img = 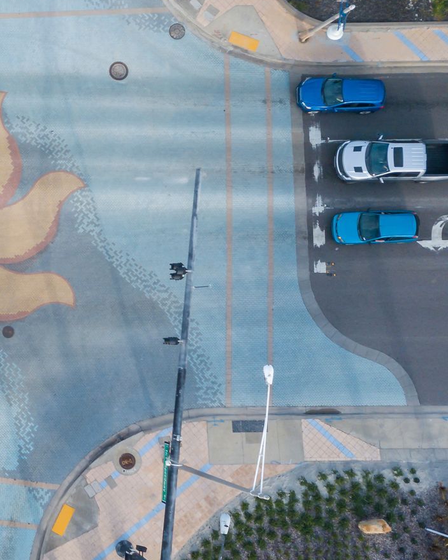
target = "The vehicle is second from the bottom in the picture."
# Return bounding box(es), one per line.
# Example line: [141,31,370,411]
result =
[331,134,448,186]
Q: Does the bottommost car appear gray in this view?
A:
No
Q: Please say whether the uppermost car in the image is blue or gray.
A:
blue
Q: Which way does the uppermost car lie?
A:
from left to right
